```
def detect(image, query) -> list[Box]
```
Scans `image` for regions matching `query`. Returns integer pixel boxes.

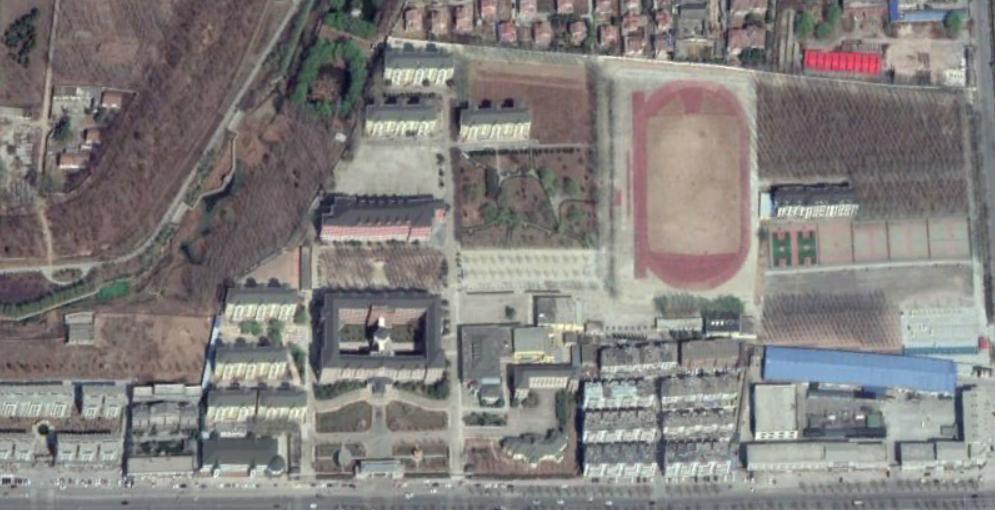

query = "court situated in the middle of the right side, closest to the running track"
[770,228,794,268]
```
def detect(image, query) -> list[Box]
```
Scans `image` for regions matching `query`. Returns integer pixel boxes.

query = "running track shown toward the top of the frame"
[634,79,750,289]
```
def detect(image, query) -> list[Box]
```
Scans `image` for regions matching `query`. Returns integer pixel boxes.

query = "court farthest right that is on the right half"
[930,219,970,259]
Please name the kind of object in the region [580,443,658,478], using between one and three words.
building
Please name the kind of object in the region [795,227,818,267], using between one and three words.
basketball court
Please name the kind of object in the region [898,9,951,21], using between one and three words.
shed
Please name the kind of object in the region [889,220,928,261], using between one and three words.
sports court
